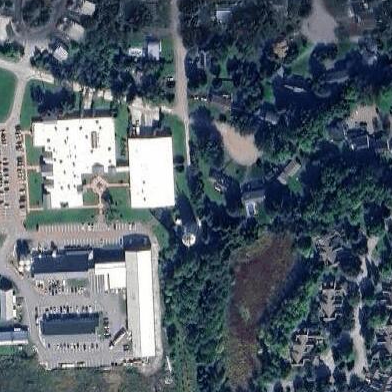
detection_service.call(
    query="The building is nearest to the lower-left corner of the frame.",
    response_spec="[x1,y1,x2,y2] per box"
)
[0,329,27,345]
